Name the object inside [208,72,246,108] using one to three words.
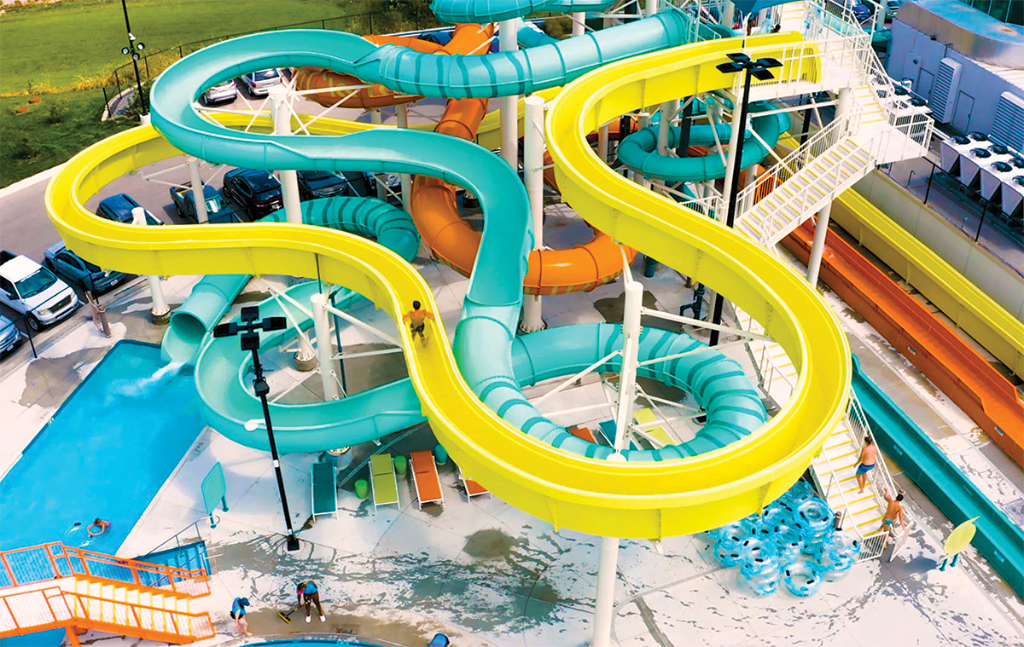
car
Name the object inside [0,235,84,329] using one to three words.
truck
